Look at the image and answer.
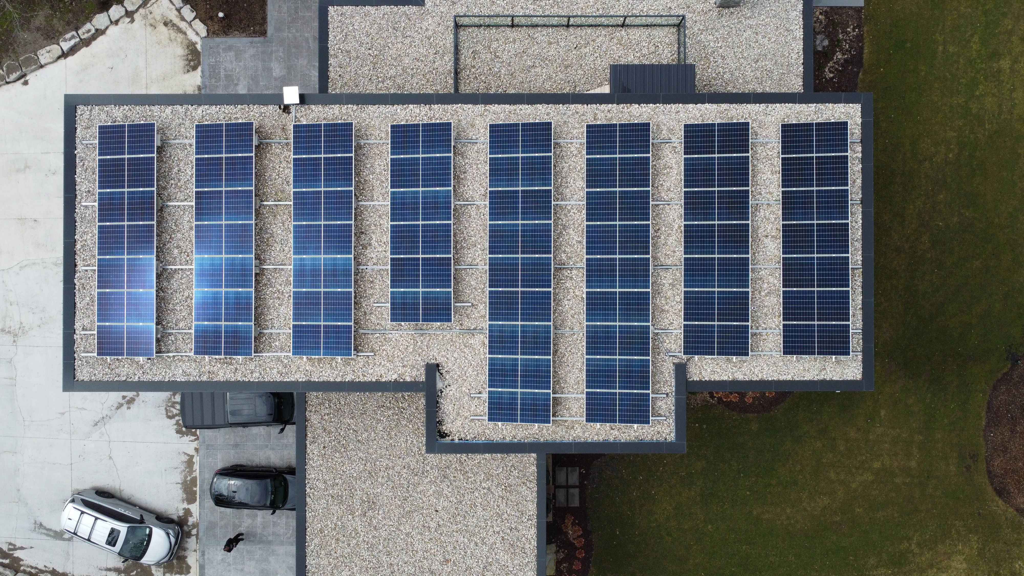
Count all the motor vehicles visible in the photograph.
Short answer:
three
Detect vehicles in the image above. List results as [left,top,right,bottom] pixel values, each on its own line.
[178,392,296,435]
[60,488,184,567]
[209,463,296,520]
